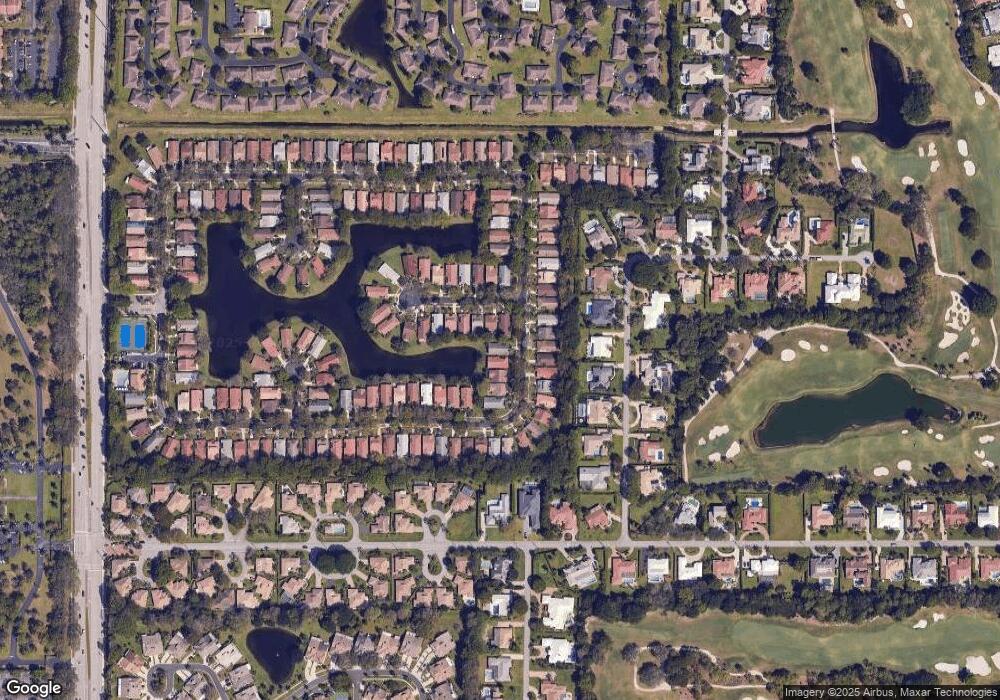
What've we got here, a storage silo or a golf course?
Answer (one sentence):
The image shows a golf course.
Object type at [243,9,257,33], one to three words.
building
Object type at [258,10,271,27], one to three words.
swimming pool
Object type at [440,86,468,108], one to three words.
house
